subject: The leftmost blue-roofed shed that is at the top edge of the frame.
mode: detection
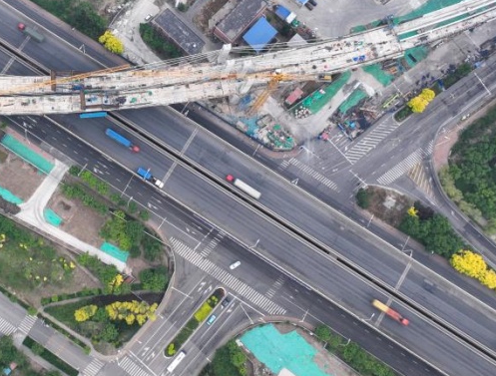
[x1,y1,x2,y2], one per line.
[242,17,278,55]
